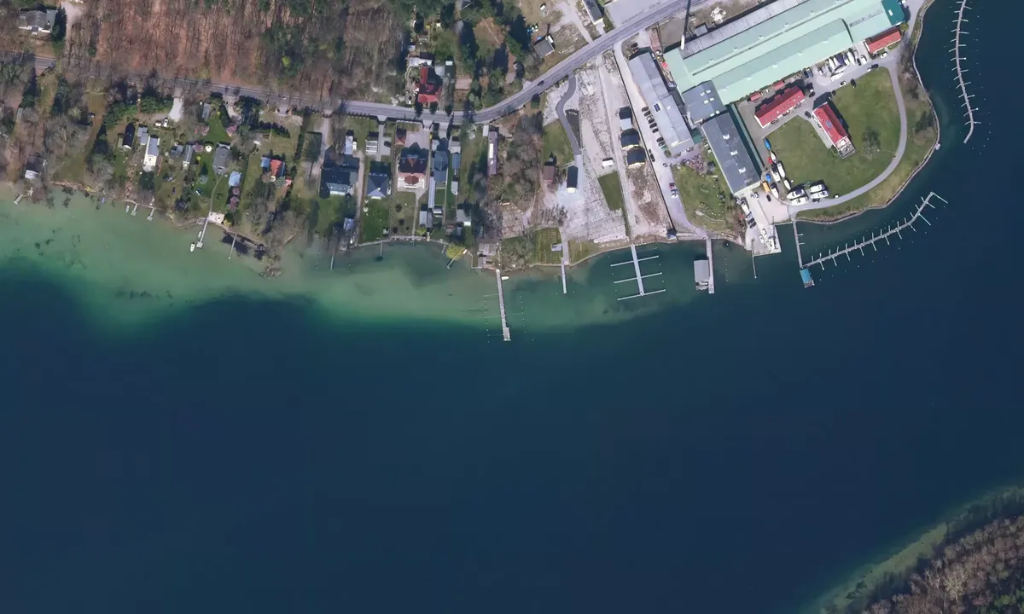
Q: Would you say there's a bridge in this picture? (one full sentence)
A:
No, I can see no bridge in this picture.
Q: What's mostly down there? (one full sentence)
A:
The bulk of the photo consists of water.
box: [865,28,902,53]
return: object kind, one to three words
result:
house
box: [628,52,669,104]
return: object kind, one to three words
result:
building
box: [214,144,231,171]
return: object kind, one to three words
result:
house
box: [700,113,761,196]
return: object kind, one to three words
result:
building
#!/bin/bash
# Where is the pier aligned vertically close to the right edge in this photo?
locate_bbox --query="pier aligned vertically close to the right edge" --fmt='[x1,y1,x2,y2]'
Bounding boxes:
[949,0,982,143]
